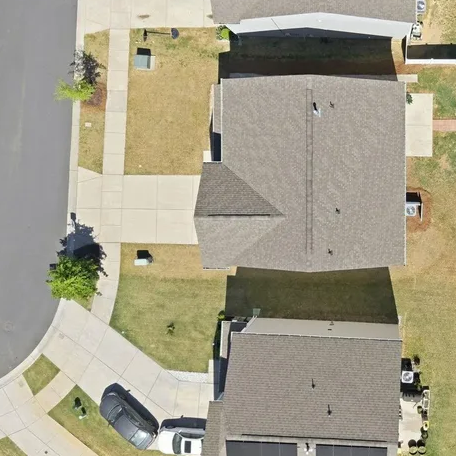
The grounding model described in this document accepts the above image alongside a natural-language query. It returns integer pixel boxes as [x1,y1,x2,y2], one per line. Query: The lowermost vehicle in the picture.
[158,424,200,456]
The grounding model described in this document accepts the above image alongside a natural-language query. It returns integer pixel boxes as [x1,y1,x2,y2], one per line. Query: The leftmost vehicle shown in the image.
[98,384,160,452]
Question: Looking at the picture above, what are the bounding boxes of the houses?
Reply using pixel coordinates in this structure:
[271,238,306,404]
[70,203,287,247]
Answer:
[196,309,401,456]
[205,0,417,39]
[192,75,407,272]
